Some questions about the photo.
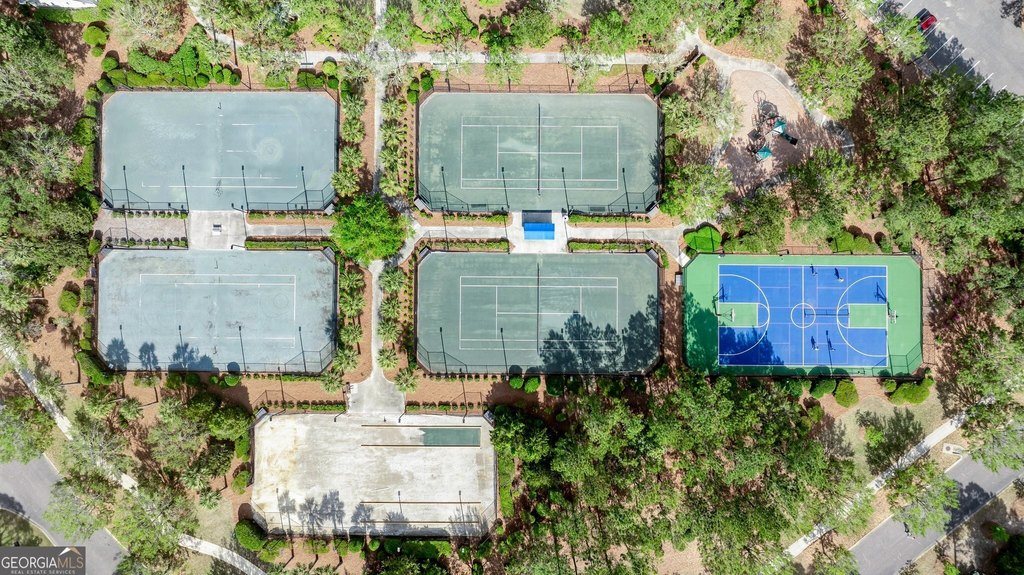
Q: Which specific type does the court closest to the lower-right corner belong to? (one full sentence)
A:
The court closest to the lower-right corner is a basketball court.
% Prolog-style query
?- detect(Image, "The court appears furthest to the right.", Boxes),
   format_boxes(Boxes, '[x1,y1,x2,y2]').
[683,253,923,377]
